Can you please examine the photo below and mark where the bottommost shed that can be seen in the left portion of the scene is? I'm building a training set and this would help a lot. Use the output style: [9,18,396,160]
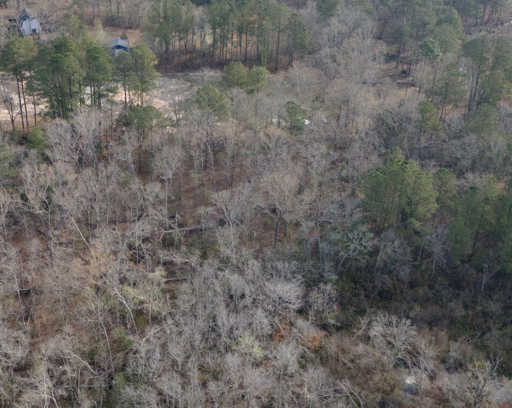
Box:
[110,34,131,55]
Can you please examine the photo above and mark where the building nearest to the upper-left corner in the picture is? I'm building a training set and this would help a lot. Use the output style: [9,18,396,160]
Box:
[20,8,41,35]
